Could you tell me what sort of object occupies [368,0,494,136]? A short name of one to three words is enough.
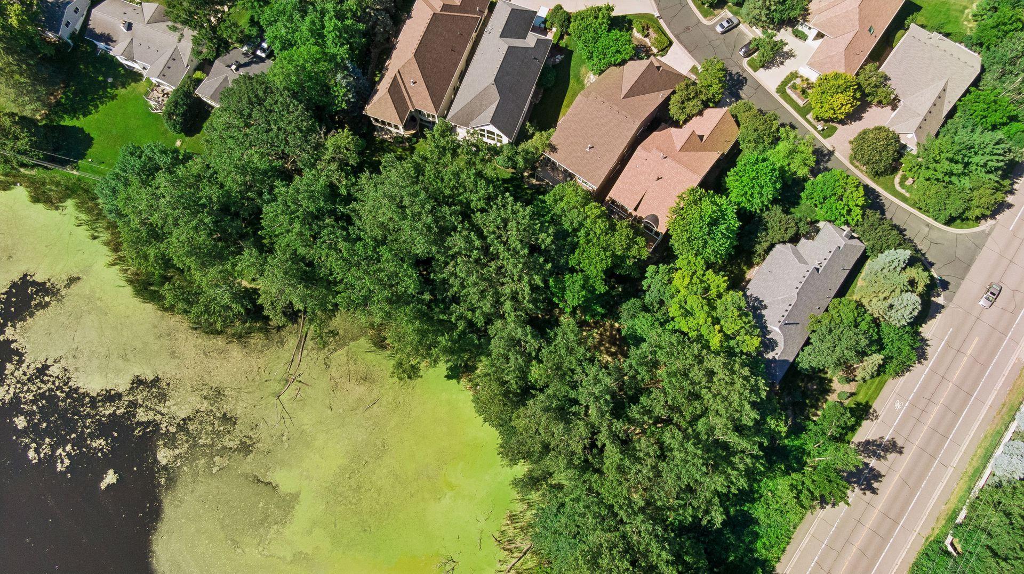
house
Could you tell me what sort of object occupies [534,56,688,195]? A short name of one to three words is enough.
house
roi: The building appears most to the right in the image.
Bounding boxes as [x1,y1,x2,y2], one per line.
[879,23,981,155]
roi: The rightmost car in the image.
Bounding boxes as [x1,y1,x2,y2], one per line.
[979,282,1002,310]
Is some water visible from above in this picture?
Yes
